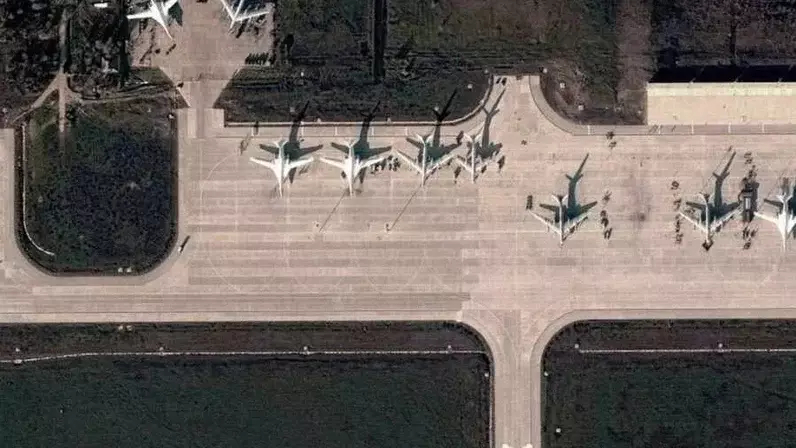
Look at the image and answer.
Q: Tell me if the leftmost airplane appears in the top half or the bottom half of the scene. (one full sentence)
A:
You can find the leftmost airplane in the top half.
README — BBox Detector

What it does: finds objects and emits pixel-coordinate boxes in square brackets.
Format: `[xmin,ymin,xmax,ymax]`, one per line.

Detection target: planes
[220,0,270,30]
[252,139,315,201]
[680,188,738,241]
[125,0,173,40]
[322,139,385,200]
[533,186,591,238]
[756,187,796,247]
[396,128,453,182]
[444,124,501,180]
